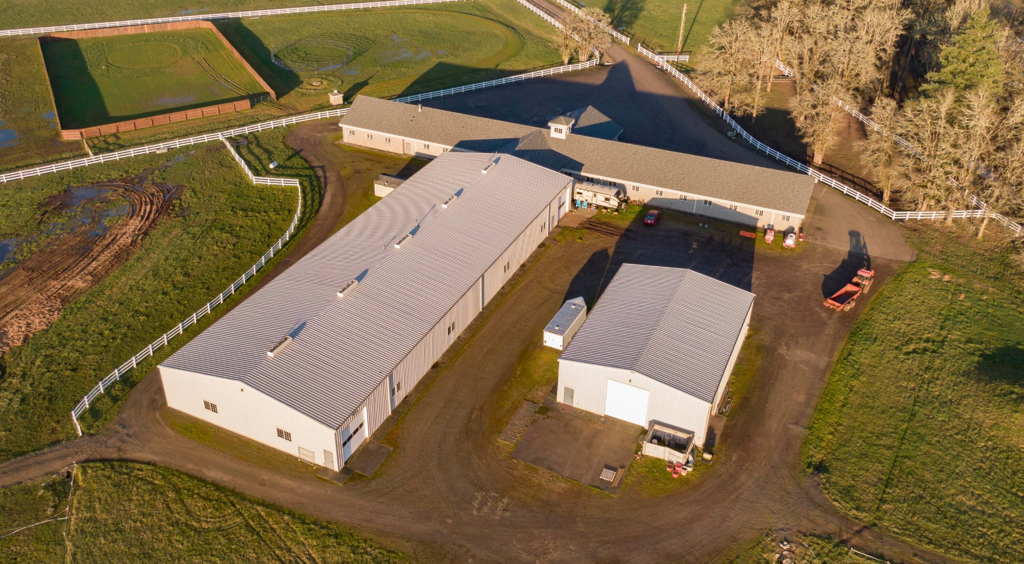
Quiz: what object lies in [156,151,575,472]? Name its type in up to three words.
barn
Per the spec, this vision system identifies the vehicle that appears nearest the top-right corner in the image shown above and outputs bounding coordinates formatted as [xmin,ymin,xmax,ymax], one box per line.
[855,266,882,294]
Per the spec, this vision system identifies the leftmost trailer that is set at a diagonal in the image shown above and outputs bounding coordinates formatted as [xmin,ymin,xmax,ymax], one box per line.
[545,295,599,345]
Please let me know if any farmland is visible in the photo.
Yes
